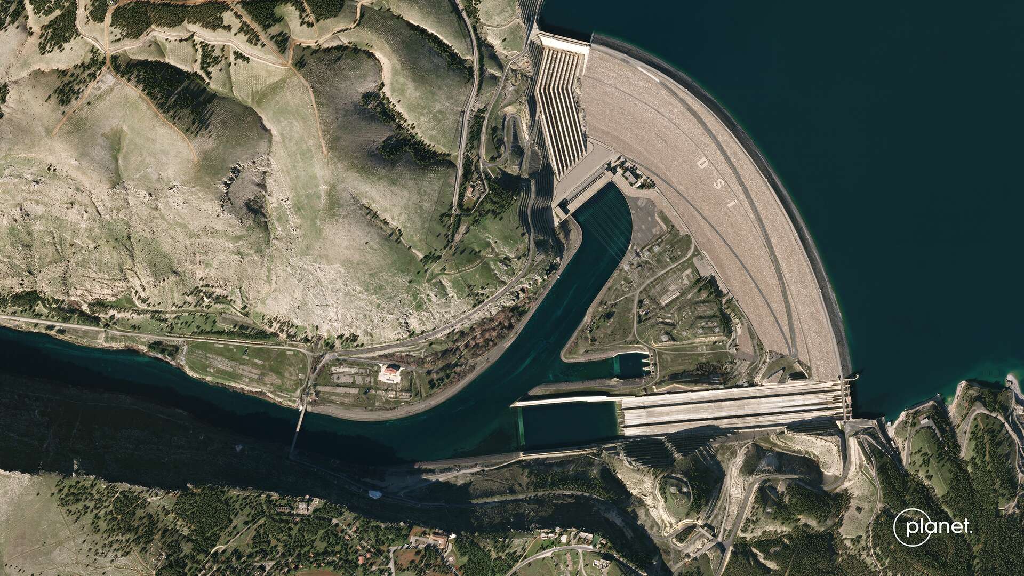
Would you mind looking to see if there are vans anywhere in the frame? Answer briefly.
No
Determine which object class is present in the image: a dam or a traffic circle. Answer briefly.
dam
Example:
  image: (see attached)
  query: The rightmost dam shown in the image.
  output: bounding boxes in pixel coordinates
[581,31,855,380]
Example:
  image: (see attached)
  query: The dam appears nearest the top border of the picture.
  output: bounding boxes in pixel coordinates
[538,31,594,76]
